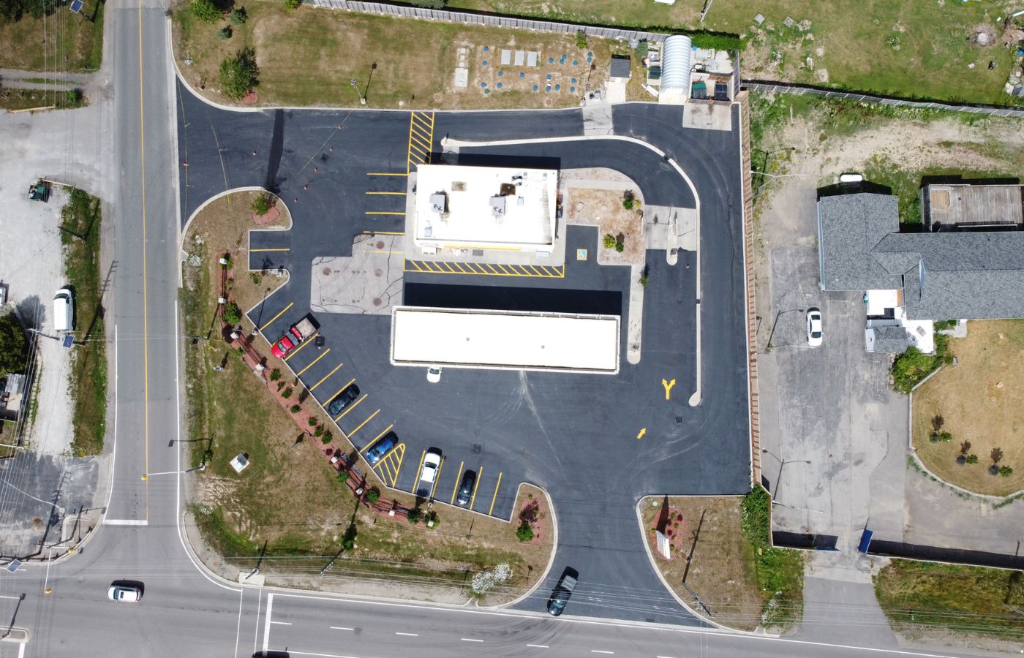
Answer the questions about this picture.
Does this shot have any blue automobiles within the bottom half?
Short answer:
Yes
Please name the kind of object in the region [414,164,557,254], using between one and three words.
building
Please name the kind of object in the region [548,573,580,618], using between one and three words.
truck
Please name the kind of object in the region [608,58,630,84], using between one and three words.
shed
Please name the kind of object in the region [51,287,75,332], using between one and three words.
vehicle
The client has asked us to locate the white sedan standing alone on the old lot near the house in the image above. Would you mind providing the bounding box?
[806,311,823,346]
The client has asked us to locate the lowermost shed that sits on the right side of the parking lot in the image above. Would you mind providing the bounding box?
[861,327,912,352]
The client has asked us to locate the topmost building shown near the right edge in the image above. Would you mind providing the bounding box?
[814,193,1024,320]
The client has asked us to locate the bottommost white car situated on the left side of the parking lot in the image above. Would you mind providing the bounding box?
[107,585,145,603]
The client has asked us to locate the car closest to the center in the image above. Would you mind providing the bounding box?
[427,366,443,383]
